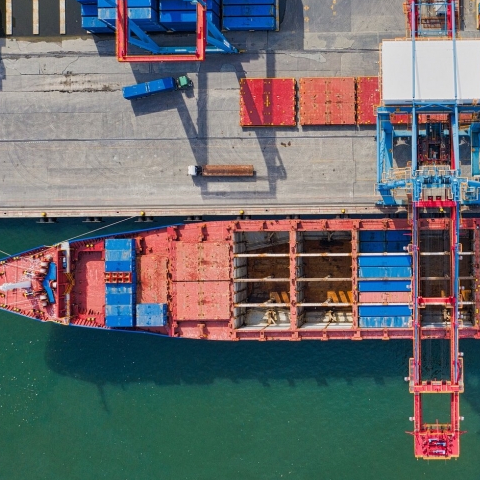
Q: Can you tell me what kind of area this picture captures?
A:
port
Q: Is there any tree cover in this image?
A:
No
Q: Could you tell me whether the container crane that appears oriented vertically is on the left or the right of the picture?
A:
right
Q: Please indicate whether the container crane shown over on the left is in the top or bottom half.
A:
top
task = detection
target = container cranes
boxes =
[373,0,480,464]
[116,0,248,64]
